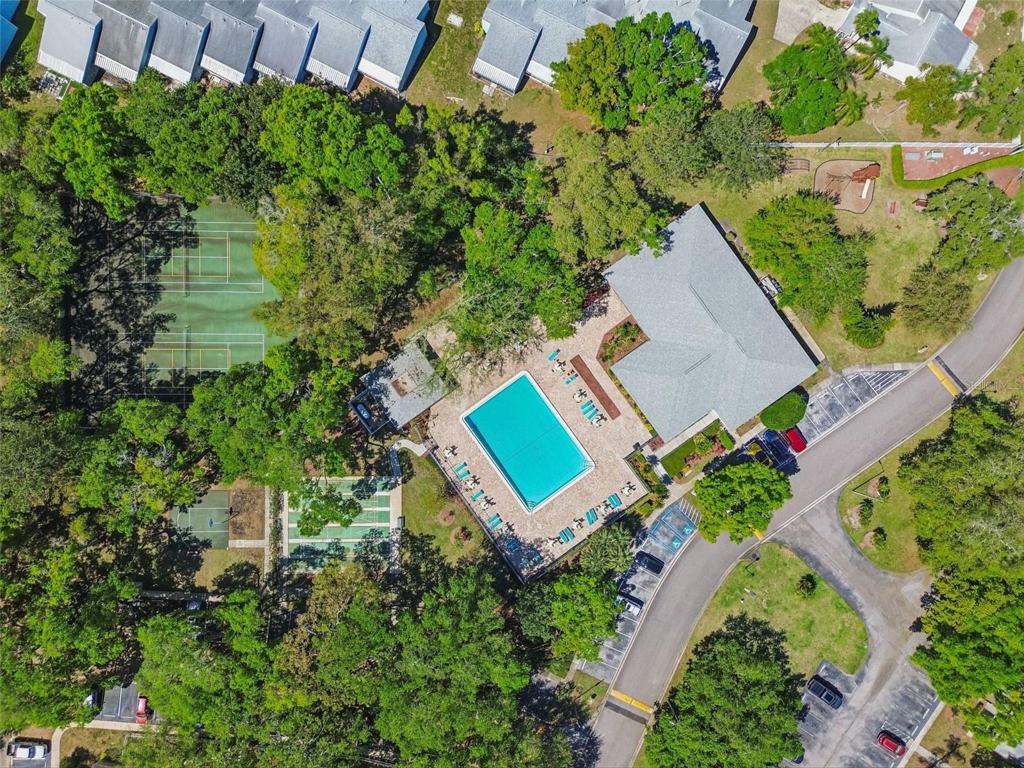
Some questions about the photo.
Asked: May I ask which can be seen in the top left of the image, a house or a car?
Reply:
house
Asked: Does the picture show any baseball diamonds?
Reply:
No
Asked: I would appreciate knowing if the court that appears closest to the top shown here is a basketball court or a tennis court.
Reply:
tennis court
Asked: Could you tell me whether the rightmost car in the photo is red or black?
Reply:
red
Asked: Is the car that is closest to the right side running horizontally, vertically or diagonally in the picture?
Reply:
diagonally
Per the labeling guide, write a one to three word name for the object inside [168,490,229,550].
basketball court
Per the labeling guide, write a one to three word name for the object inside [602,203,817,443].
building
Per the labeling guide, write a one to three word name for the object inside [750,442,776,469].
car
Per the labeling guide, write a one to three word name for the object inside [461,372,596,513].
swimming pool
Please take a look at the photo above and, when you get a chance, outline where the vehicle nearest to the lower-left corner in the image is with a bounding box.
[7,741,49,760]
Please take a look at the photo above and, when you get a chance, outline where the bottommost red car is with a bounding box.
[877,734,906,757]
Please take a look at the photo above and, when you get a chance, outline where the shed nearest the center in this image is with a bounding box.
[360,340,456,428]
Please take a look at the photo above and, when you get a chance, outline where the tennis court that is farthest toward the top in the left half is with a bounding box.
[69,194,295,312]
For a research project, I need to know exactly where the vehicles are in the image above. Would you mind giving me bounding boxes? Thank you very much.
[877,734,906,757]
[616,594,647,617]
[786,748,809,766]
[750,442,776,469]
[806,677,844,709]
[764,430,791,460]
[134,696,149,724]
[7,741,49,760]
[780,427,807,455]
[639,554,666,575]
